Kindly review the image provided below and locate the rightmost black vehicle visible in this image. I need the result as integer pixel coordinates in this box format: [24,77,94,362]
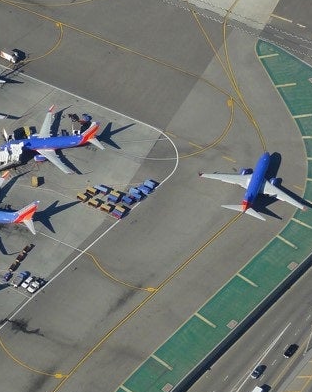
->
[284,344,298,358]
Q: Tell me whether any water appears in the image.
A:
No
